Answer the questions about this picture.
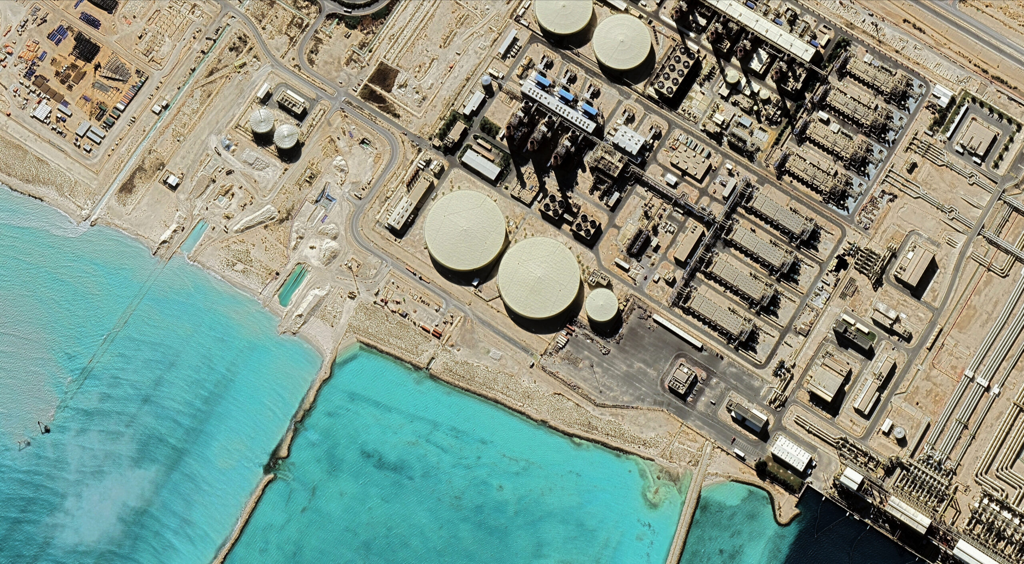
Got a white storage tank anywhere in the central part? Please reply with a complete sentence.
Yes, a white storage tank shows up in the central part.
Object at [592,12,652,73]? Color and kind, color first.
white storage tank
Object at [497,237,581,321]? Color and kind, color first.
white storage tank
